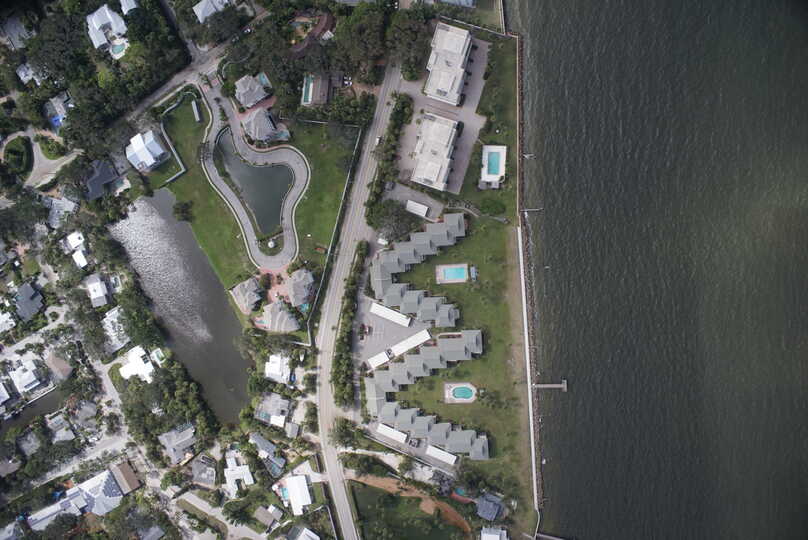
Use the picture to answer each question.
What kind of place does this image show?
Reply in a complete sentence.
The picture captures a residential area.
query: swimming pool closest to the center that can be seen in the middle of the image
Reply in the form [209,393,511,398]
[436,264,468,284]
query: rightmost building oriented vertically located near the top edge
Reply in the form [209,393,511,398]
[424,24,472,106]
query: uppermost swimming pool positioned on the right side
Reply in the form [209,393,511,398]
[481,145,507,183]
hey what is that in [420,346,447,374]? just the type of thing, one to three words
house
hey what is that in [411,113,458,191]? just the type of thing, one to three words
building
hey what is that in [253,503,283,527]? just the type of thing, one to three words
house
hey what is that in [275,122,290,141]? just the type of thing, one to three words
swimming pool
